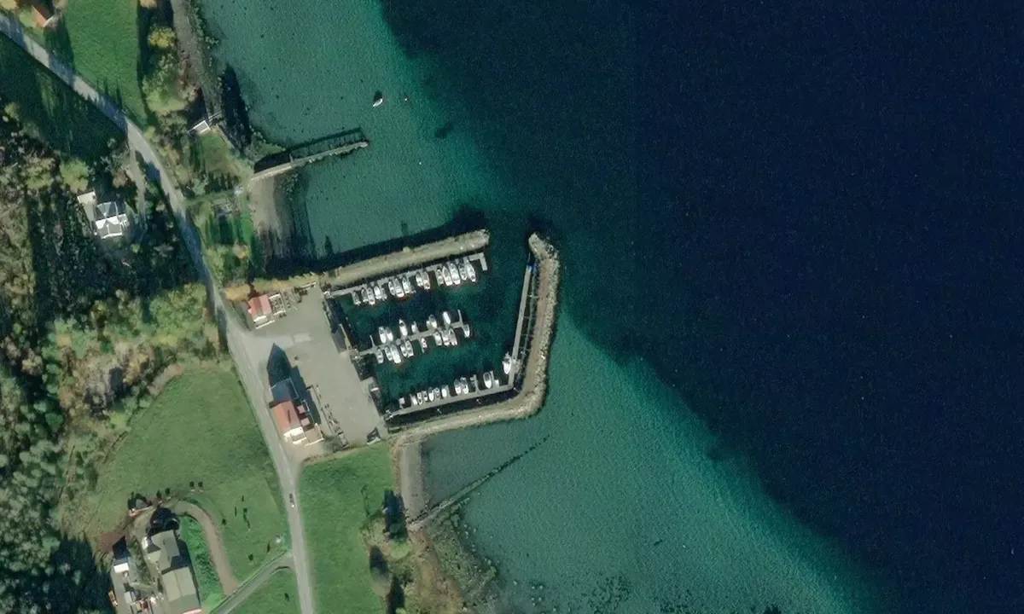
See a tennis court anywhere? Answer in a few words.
No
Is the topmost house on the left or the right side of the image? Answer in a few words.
left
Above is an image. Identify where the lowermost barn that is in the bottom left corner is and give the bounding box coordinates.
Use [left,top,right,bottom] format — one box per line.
[163,568,199,614]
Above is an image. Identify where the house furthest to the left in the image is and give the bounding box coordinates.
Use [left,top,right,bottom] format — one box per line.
[24,0,54,30]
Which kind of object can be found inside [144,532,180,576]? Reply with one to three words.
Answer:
barn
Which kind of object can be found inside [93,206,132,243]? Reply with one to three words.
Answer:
house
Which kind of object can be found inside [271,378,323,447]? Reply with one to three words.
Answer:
building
